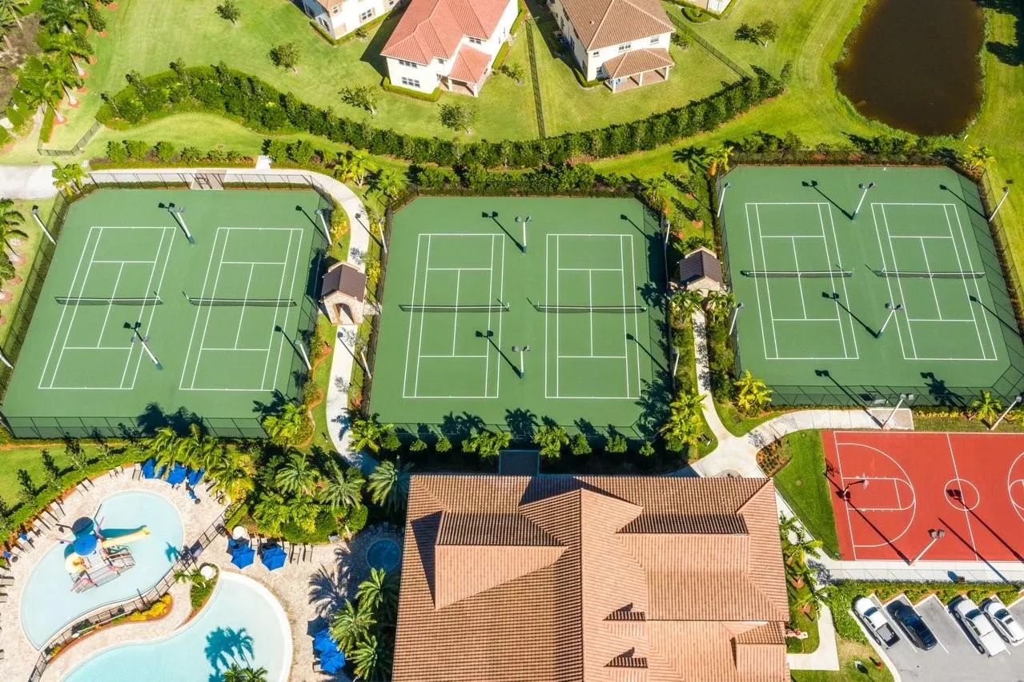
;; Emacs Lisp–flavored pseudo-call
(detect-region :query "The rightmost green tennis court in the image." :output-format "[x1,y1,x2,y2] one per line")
[842,166,1024,407]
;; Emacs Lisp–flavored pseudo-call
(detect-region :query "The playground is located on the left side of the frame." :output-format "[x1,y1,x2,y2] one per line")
[57,520,151,594]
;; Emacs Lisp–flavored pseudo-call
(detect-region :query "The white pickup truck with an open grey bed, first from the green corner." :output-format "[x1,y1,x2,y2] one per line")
[853,598,905,652]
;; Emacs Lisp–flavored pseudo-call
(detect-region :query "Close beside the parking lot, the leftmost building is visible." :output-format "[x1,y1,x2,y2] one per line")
[393,472,793,682]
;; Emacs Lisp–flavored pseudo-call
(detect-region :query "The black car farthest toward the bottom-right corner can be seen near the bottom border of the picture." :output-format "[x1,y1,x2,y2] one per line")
[885,601,936,652]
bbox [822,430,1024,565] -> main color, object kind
red basketball court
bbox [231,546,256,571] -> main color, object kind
blue umbrella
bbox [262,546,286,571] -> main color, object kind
blue umbrella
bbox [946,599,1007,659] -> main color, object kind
white truck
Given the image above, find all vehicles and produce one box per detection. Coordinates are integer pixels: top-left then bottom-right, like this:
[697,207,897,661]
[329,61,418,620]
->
[946,599,1007,659]
[885,601,936,652]
[853,598,905,652]
[983,603,1024,652]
